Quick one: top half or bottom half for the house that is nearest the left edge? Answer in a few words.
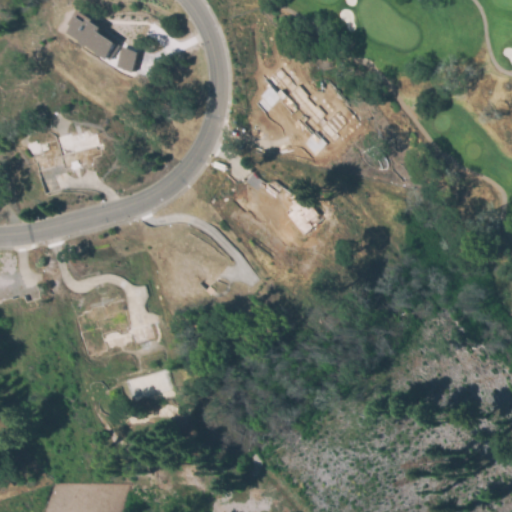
top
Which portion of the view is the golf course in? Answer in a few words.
top right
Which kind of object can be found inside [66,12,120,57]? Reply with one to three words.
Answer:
house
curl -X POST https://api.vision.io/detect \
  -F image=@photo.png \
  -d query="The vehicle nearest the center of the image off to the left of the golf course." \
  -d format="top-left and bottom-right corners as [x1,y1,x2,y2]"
[212,160,229,172]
